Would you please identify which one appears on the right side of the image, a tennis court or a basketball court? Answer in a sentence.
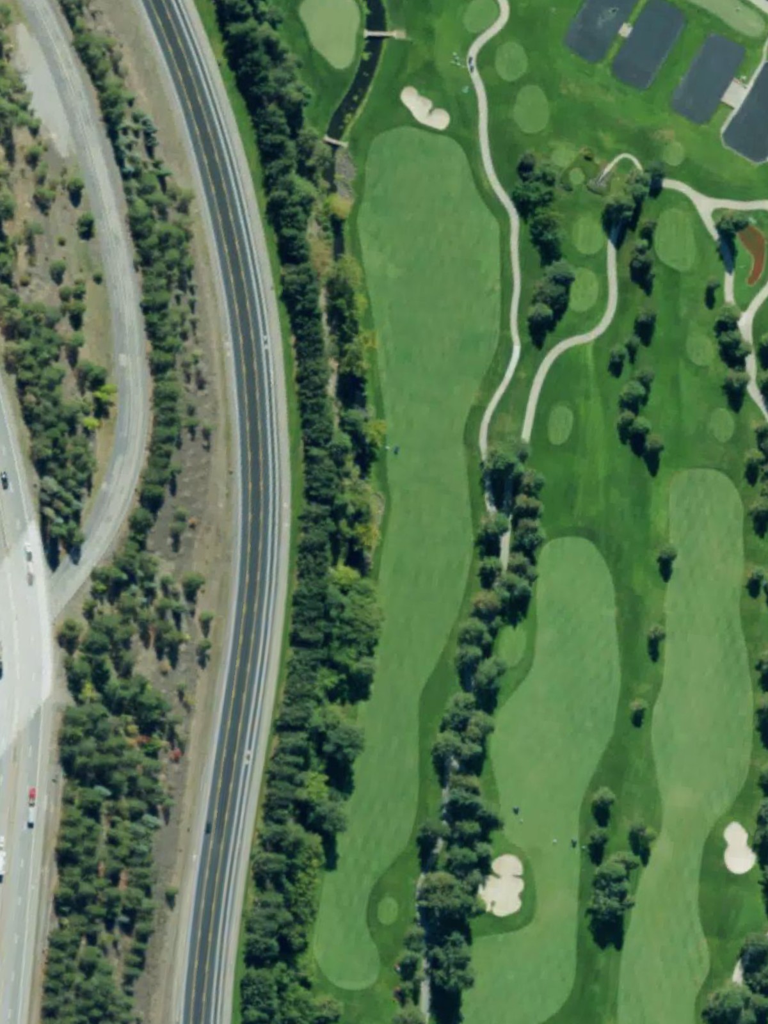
The feature located on the right side of the image is a tennis court.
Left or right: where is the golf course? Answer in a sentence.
It is on the right.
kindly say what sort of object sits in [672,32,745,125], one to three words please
tennis court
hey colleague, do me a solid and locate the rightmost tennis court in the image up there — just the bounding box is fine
[721,58,768,164]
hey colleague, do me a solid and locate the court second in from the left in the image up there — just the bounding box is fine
[613,0,684,89]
